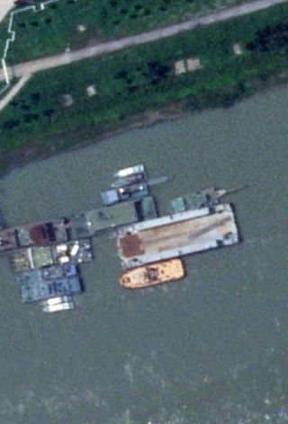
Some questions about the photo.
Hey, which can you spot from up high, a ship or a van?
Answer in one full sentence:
This aerial view contains a ship.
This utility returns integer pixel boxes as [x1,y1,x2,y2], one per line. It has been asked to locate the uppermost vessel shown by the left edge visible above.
[12,238,93,272]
